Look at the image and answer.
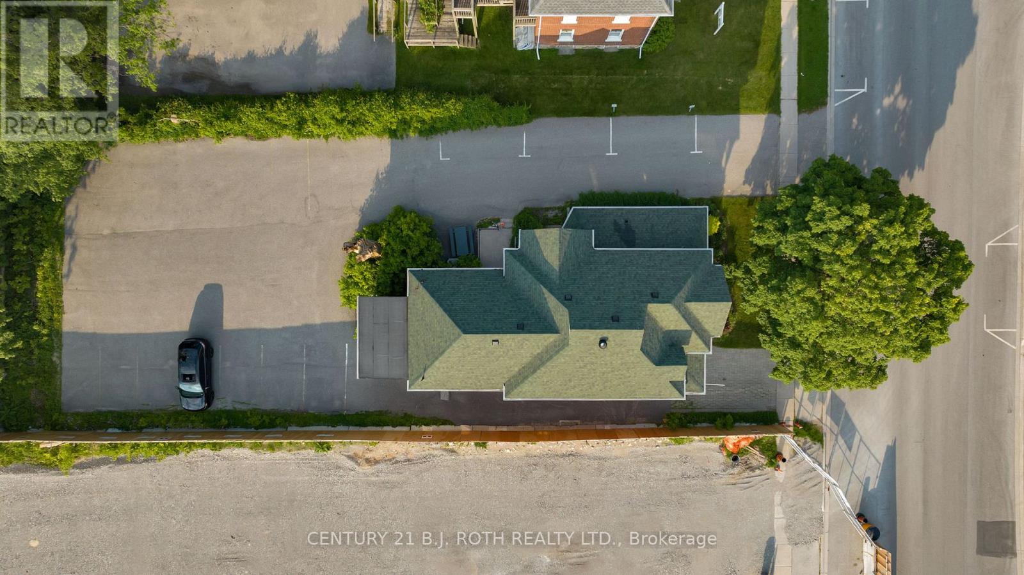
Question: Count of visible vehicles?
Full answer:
Altogether the scene contains 1 vehicle.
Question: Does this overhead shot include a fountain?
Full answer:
No, the photo shows no fountain.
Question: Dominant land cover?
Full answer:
The bulk of the photo consists of paved ground.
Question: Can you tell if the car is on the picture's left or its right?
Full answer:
The car is on the left side of the image.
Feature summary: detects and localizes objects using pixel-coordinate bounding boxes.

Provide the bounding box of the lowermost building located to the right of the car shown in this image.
[356,203,734,402]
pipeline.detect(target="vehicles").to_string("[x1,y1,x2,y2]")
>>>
[175,337,214,410]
